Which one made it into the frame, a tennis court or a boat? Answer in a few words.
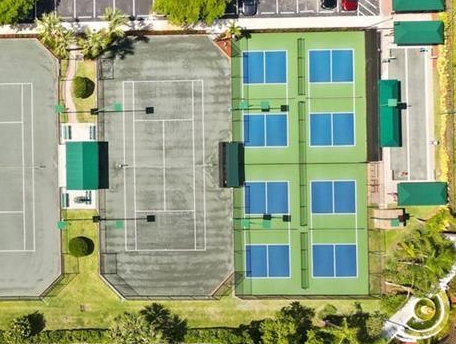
tennis court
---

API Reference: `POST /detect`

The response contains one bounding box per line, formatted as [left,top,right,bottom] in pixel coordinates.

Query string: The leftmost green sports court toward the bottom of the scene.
[234,162,303,296]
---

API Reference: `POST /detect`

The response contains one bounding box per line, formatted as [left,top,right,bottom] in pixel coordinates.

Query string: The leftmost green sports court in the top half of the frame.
[234,30,302,163]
